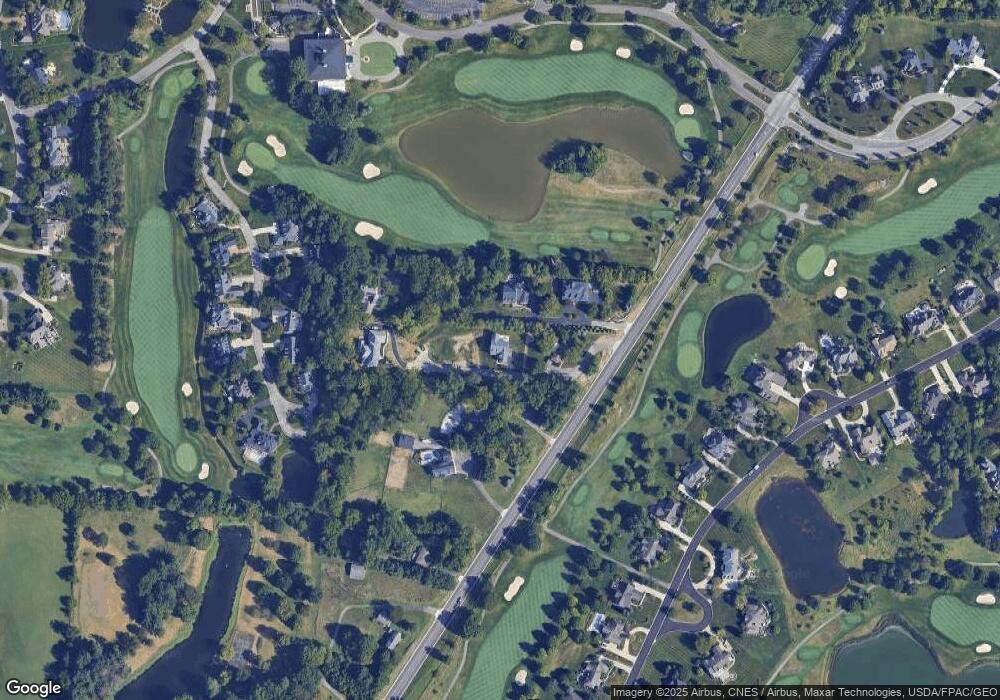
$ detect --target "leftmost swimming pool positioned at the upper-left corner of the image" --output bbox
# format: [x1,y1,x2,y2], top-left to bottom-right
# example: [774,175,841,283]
[48,10,71,32]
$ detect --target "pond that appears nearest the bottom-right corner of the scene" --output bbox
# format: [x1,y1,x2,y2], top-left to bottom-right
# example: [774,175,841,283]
[814,625,1000,700]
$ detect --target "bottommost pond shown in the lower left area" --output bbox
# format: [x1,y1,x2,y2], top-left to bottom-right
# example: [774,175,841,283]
[115,526,249,700]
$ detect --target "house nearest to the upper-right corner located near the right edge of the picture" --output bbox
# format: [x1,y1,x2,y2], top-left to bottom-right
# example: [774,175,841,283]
[947,28,989,64]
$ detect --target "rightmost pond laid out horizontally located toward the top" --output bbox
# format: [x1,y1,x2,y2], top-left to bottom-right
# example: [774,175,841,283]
[400,104,682,222]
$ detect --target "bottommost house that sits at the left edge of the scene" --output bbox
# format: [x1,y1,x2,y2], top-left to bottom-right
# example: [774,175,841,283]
[26,318,62,350]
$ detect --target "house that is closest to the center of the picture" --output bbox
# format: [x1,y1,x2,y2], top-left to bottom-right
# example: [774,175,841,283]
[489,333,510,365]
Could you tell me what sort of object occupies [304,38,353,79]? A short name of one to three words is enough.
building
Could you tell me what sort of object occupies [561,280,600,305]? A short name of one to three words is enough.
house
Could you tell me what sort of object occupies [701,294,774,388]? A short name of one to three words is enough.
pond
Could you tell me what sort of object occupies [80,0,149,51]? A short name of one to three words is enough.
pond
